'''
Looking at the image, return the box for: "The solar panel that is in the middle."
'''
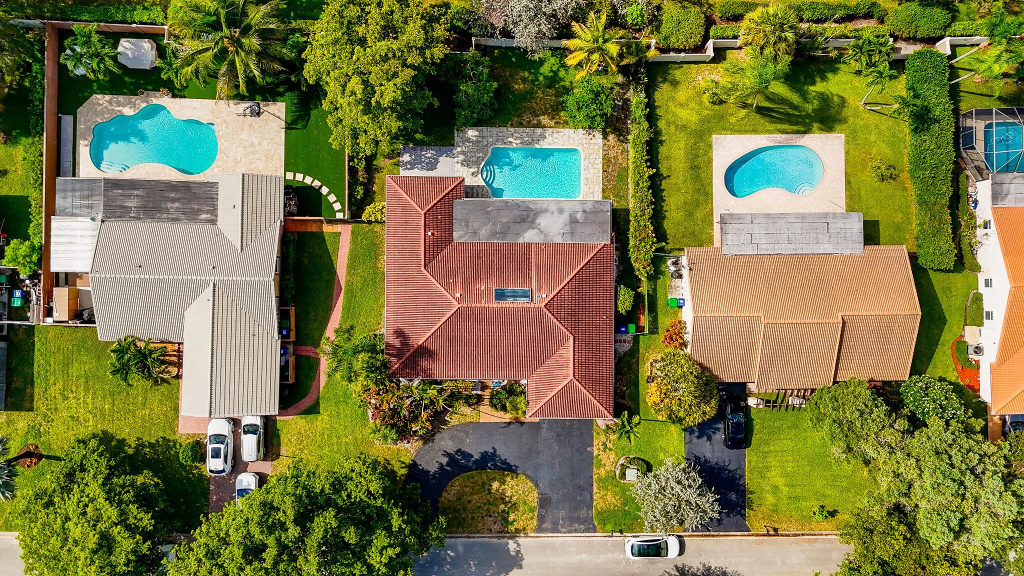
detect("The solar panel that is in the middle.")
[494,287,531,304]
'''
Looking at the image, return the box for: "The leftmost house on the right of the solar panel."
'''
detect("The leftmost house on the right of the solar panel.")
[682,212,923,391]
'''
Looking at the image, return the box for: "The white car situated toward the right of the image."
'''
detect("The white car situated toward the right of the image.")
[626,536,682,564]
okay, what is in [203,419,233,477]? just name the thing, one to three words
car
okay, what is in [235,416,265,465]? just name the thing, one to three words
car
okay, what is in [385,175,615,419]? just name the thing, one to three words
house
